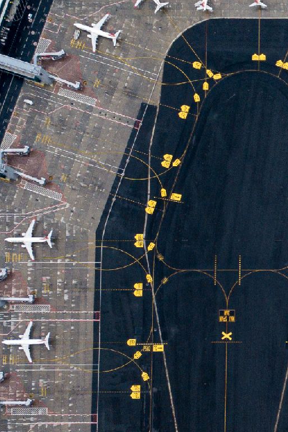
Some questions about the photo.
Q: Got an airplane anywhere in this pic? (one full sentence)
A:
Yes, there's an airplane down there.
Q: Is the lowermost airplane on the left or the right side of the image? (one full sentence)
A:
The lowermost airplane appears in the left half of the scene.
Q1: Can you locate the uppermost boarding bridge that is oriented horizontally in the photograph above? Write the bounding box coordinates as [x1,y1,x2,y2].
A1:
[0,48,83,89]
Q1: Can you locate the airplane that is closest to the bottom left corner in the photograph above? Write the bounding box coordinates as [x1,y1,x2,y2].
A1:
[3,319,48,363]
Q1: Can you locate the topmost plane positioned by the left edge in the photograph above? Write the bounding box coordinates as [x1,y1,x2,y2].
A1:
[6,217,49,260]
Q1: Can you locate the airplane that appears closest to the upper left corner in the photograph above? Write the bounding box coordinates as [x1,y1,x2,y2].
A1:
[75,9,118,50]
